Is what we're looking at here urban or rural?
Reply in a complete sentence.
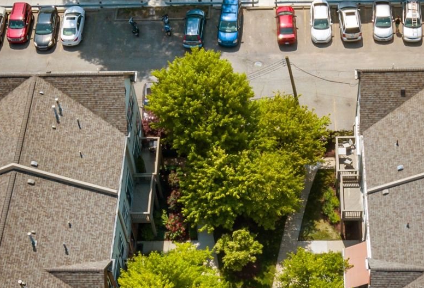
The area shown here is urban.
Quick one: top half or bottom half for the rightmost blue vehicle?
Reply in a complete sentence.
Seen from above, the rightmost blue vehicle lies in the top half of the view.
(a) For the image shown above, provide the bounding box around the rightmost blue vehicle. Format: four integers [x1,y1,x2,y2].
[215,0,240,45]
